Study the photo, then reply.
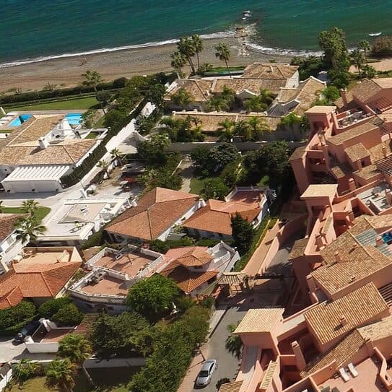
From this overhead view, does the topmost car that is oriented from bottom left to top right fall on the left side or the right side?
left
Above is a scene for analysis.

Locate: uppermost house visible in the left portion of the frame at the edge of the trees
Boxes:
[0,115,113,203]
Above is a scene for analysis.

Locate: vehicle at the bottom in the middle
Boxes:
[191,361,218,388]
